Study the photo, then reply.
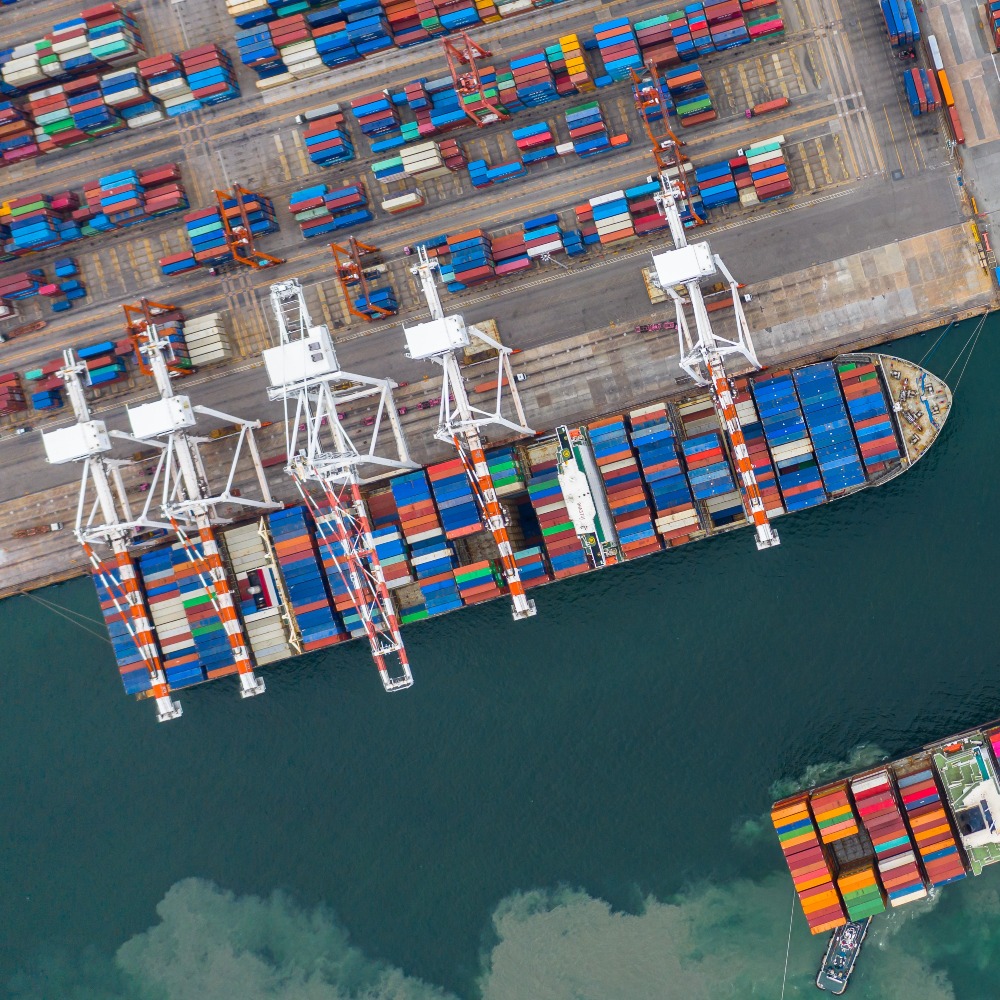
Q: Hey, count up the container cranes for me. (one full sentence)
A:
The number of container cranes here is 11.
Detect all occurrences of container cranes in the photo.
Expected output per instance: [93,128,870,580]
[650,174,778,549]
[322,233,399,321]
[125,323,298,698]
[254,279,433,693]
[401,245,550,619]
[438,30,495,122]
[205,180,287,270]
[42,348,221,722]
[112,295,185,377]
[625,57,688,152]
[646,139,709,229]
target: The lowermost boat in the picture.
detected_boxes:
[818,914,872,996]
